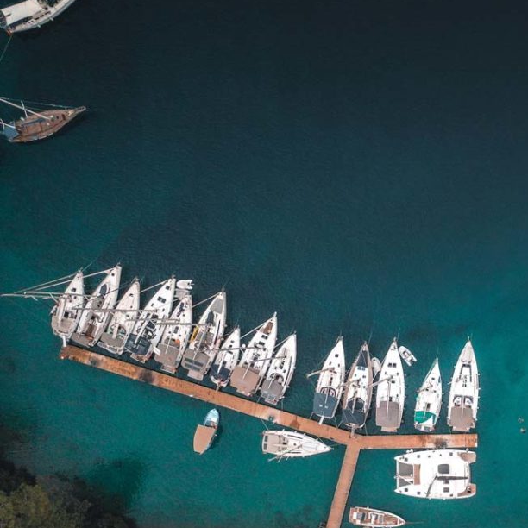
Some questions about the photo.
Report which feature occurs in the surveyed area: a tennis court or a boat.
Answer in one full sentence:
The image shows a boat.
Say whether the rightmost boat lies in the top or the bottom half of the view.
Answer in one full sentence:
It is in the bottom half that the rightmost boat appears.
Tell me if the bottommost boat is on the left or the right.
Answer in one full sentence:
It is on the right.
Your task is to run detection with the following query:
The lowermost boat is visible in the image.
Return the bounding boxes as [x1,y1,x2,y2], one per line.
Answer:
[345,506,406,528]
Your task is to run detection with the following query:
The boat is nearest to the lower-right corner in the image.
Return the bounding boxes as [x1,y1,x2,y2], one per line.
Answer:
[393,446,477,501]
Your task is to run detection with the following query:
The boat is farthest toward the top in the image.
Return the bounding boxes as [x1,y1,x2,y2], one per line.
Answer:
[0,0,81,60]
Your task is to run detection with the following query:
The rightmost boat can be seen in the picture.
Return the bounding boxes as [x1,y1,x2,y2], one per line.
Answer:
[445,330,482,432]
